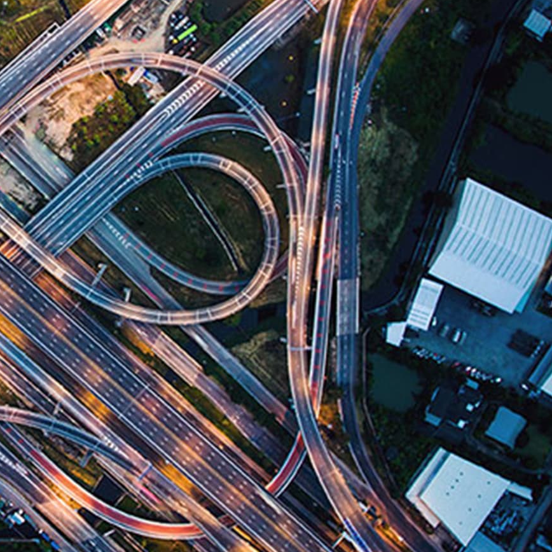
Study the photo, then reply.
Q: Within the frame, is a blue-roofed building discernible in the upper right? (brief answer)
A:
Yes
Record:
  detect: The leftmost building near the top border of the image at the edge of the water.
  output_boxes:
[448,18,476,43]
